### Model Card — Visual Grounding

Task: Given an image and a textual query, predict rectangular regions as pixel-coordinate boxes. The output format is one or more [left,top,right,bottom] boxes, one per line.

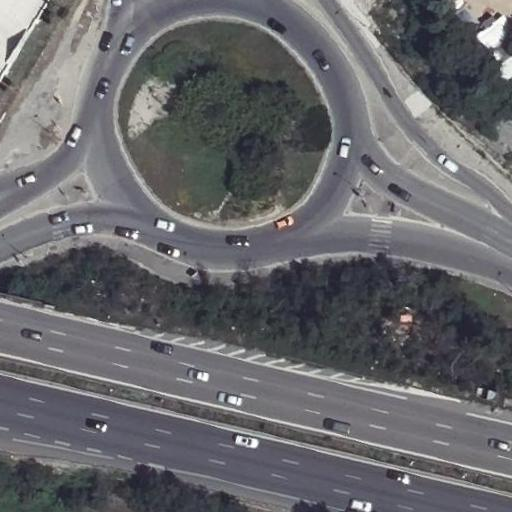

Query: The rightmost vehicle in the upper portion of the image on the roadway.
[436,153,459,173]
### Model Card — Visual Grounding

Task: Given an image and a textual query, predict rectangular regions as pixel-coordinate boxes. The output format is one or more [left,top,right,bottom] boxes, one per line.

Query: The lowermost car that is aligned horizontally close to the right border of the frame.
[488,439,511,451]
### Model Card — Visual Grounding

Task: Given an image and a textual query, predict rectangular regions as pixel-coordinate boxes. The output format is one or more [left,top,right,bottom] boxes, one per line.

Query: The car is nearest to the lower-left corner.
[85,420,106,432]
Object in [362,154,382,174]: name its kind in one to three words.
car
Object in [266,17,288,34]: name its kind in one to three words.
car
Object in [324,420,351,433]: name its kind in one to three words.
vehicle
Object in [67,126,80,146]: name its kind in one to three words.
vehicle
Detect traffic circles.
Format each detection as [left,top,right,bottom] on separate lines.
[82,0,367,264]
